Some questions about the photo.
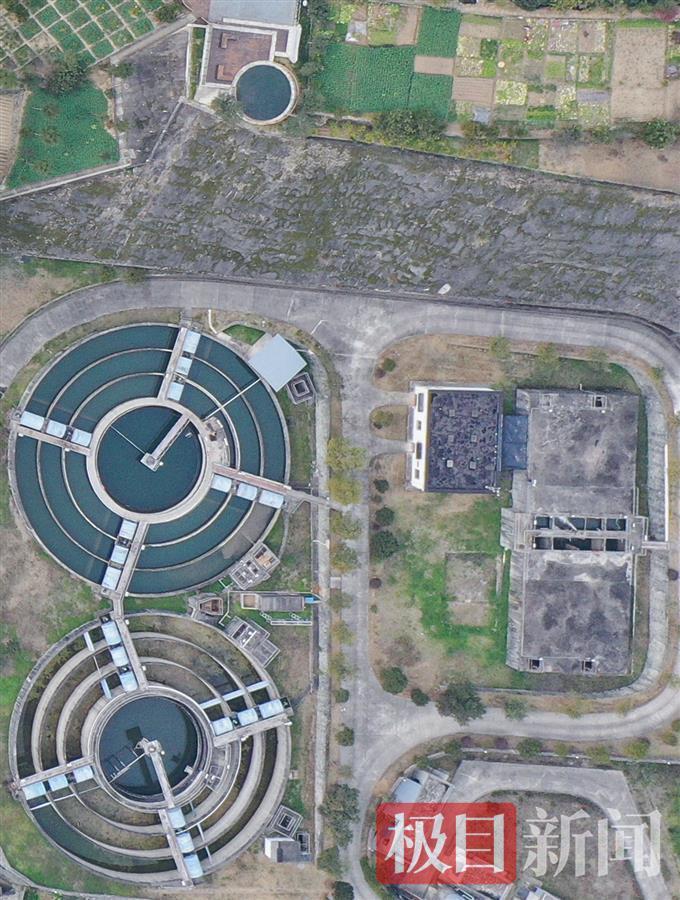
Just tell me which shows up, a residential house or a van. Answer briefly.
residential house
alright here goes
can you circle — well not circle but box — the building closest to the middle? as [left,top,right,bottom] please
[405,381,503,496]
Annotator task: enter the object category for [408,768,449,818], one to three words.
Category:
house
